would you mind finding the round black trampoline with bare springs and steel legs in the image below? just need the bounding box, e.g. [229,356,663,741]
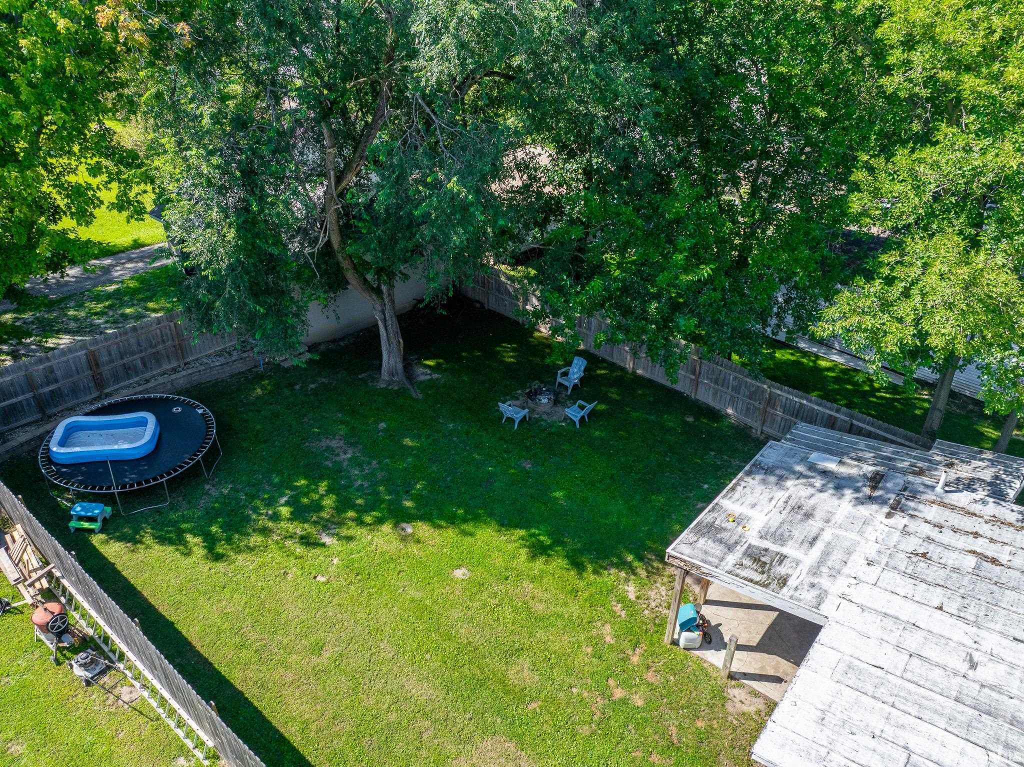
[40,394,222,518]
